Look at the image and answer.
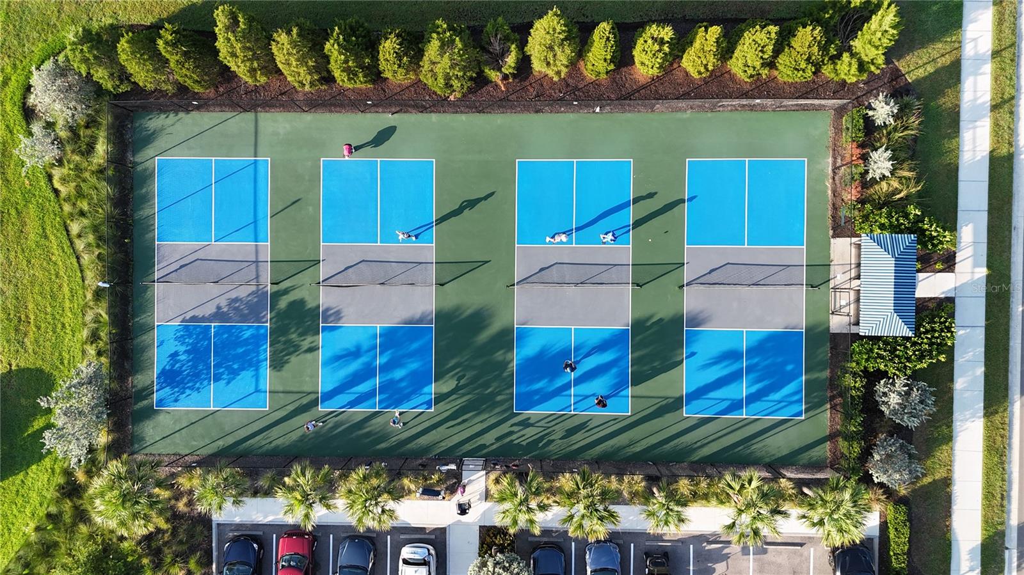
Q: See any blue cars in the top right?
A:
No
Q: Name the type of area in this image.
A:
sports ground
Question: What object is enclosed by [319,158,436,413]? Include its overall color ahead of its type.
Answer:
blue sports court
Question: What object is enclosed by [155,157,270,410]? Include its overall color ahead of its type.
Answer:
blue sports court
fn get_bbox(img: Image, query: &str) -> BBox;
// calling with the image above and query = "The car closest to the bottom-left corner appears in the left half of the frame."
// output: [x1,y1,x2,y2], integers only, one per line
[215,534,262,575]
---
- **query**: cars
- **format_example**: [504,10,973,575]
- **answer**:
[272,528,319,575]
[215,534,262,575]
[530,542,567,575]
[578,539,619,575]
[332,534,378,575]
[824,544,870,575]
[400,542,439,575]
